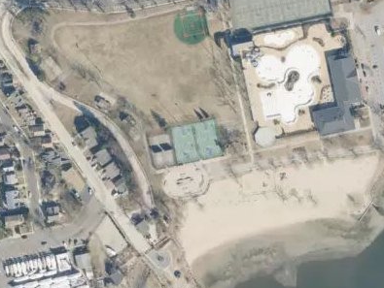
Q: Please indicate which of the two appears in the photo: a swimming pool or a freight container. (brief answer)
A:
swimming pool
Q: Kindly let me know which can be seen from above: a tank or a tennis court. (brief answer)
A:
tennis court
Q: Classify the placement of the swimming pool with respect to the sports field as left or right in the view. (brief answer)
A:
right of it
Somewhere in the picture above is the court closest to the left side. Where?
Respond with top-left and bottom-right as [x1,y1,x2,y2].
[148,132,175,170]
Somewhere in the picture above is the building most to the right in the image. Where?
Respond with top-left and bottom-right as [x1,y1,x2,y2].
[310,48,365,138]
